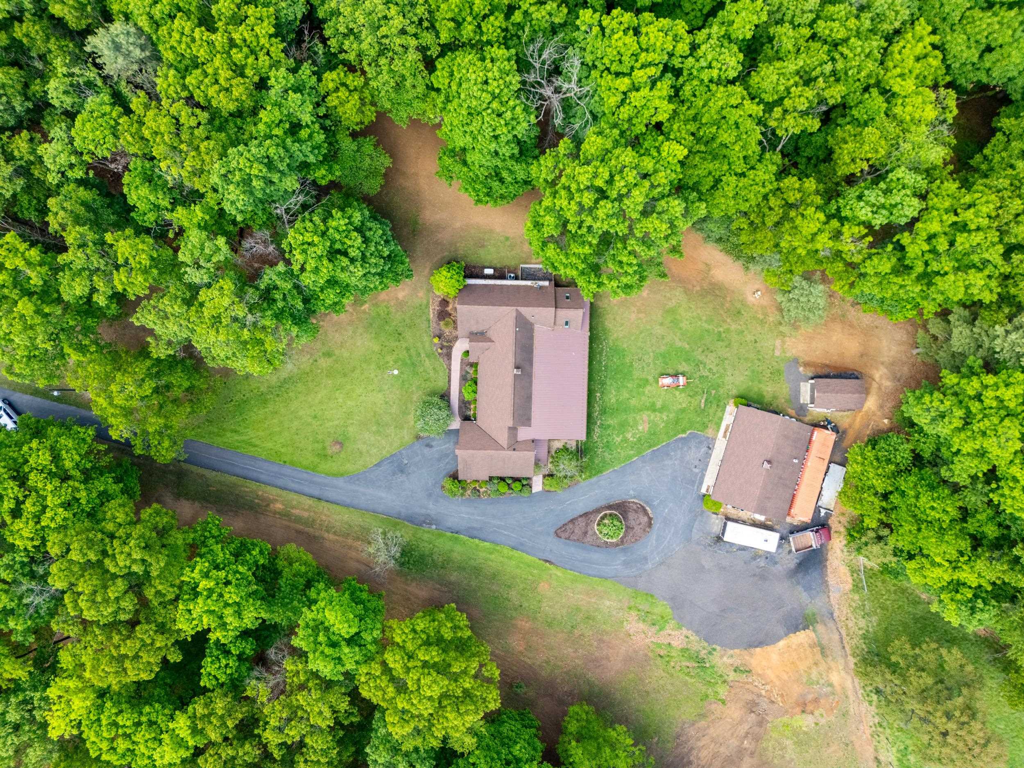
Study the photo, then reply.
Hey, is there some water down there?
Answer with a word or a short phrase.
No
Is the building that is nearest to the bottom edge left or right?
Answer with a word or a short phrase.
right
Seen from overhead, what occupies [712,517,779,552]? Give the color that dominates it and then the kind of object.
white trailer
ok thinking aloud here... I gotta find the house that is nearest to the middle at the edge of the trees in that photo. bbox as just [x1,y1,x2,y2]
[455,279,590,480]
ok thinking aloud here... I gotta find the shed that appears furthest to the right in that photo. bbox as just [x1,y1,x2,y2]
[800,379,865,410]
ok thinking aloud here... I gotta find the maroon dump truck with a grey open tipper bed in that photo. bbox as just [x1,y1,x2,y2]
[780,524,834,553]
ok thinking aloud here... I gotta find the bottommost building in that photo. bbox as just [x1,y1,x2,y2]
[706,405,836,523]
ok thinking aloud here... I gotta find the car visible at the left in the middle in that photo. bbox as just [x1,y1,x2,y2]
[0,400,20,429]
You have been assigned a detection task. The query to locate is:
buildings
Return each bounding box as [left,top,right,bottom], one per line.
[800,379,865,410]
[706,405,836,523]
[455,279,590,480]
